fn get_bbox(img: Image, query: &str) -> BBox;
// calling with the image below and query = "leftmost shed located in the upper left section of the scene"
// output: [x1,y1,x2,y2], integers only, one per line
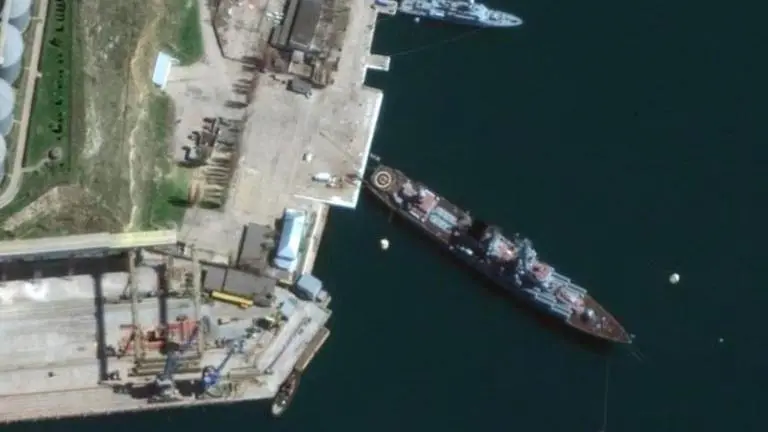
[152,52,172,88]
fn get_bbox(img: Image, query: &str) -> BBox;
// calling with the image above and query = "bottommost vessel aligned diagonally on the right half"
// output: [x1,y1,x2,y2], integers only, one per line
[365,166,629,344]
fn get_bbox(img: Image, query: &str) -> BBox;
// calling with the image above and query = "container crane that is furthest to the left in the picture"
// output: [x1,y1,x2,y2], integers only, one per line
[124,248,148,386]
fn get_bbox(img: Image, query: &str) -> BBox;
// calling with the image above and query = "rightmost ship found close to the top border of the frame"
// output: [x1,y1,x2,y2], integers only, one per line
[394,0,522,28]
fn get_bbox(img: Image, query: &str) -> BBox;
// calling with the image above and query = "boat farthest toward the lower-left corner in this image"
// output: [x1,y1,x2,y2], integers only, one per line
[272,372,302,414]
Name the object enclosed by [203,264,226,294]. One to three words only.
building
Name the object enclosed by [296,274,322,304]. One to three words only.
house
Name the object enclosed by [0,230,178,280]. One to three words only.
building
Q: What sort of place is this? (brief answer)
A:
port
